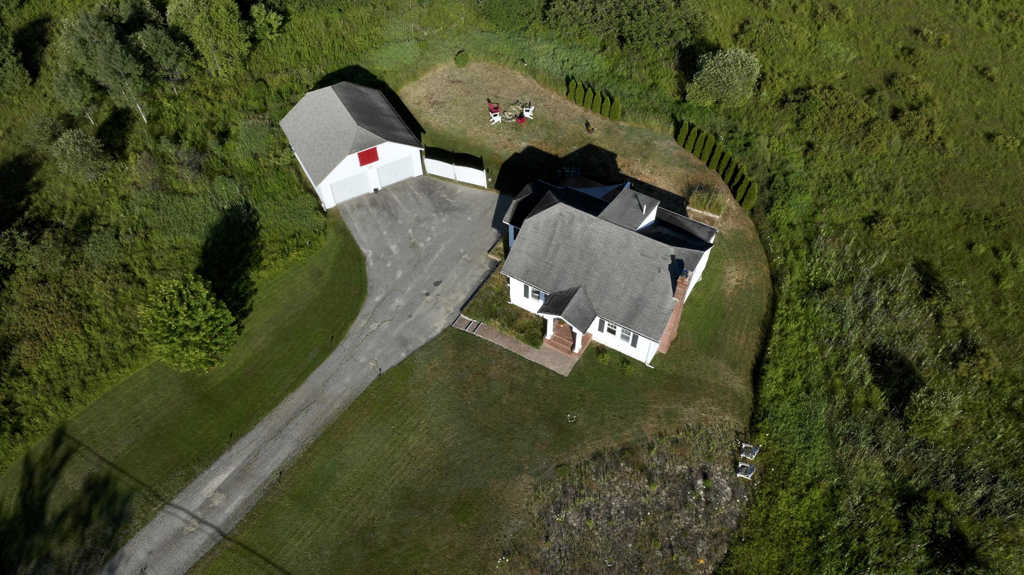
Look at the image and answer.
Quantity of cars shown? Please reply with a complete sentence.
I count no cars.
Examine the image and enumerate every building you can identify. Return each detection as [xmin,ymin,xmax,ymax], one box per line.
[277,81,425,211]
[499,180,719,371]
